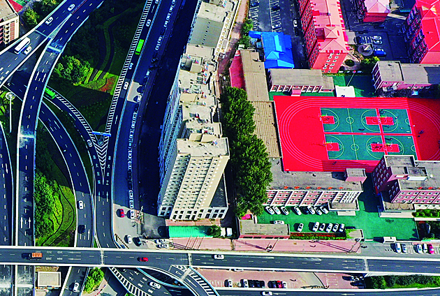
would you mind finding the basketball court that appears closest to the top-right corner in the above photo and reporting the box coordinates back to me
[379,108,412,133]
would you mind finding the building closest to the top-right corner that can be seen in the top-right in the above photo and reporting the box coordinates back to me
[405,0,440,64]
